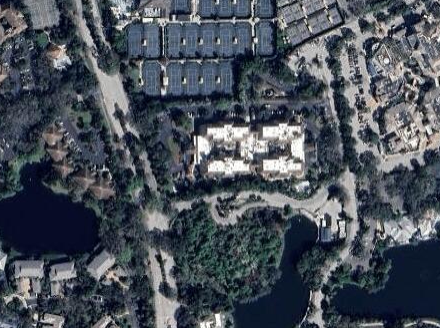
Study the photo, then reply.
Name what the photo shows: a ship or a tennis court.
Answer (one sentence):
The image shows a tennis court.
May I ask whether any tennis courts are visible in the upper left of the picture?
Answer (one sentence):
Yes, you'll find a tennis court in the upper left of the picture.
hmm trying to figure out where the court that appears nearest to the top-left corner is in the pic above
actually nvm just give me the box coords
[27,0,60,29]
